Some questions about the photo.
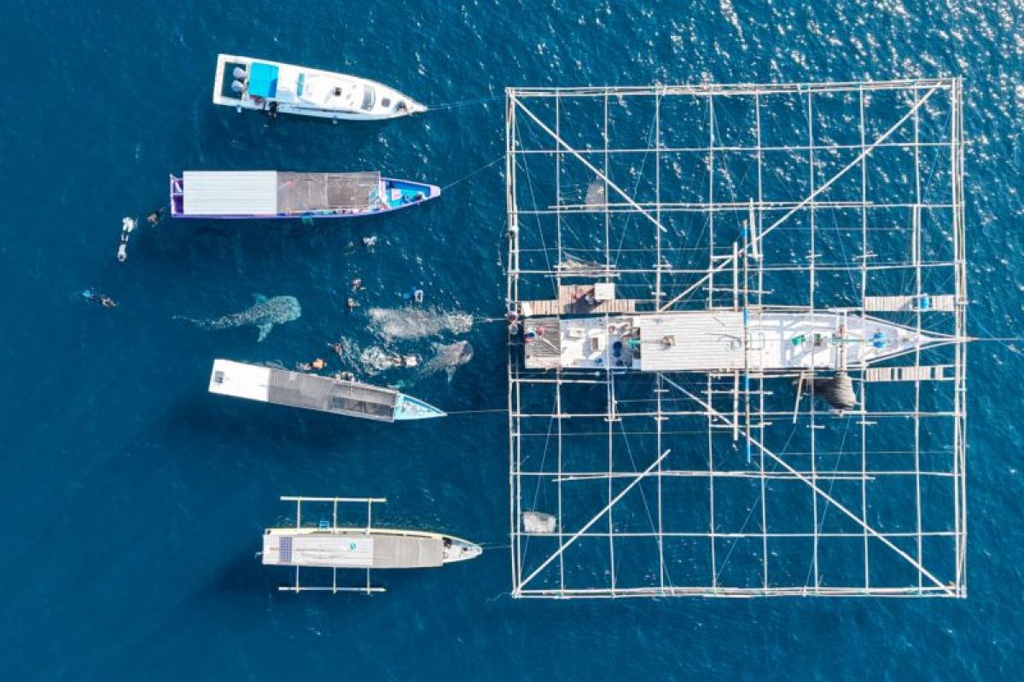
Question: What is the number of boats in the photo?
4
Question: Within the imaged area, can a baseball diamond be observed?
No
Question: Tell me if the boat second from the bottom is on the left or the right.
left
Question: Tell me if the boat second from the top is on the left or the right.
left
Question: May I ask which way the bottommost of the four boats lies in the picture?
from side to side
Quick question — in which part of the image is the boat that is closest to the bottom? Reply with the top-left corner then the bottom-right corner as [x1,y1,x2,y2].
[255,496,483,596]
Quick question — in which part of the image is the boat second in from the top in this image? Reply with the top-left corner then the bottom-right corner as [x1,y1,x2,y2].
[171,170,442,226]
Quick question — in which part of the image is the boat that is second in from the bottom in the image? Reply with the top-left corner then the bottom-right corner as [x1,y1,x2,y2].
[210,359,447,423]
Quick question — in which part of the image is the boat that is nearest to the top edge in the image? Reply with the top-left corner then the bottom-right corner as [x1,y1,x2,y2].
[209,51,427,124]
